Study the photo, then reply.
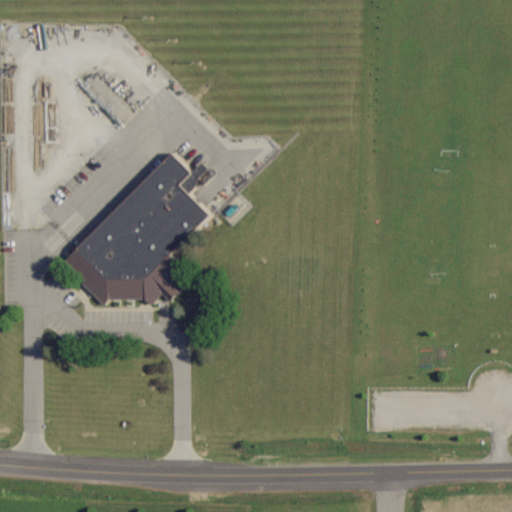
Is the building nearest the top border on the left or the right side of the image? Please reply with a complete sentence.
It is on the left.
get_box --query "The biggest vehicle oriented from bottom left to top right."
[198,169,216,186]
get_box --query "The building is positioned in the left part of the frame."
[66,154,214,305]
